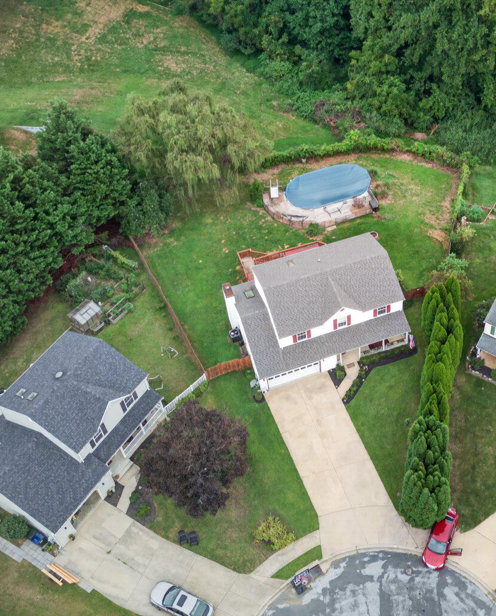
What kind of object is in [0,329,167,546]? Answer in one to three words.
house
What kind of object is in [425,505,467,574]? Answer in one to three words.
car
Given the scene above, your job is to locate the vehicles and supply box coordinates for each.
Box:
[148,583,216,616]
[425,505,467,574]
